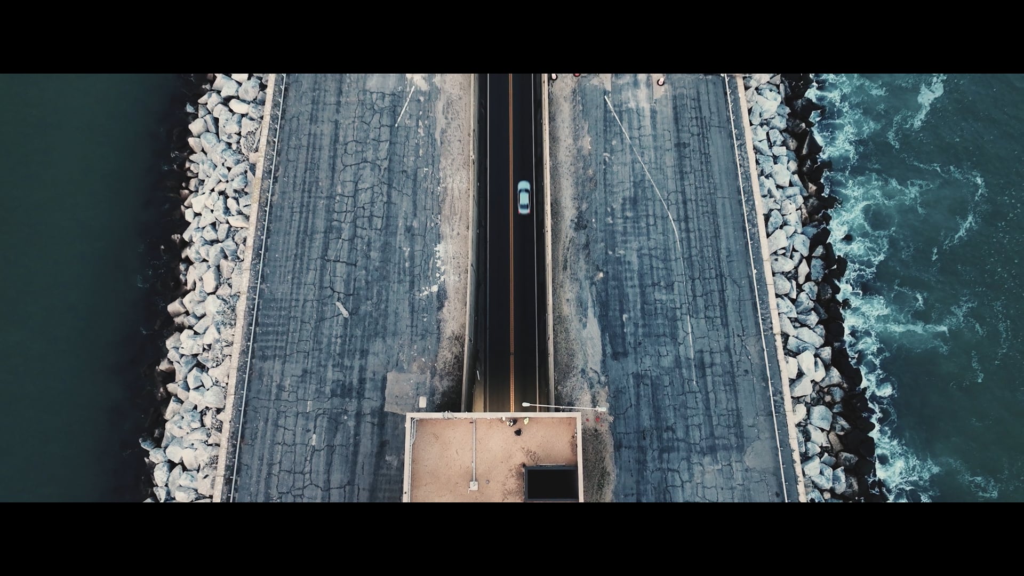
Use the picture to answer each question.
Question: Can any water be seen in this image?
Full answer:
Yes, there is water in the image.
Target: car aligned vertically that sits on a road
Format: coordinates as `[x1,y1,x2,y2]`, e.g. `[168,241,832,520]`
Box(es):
[517,180,531,213]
